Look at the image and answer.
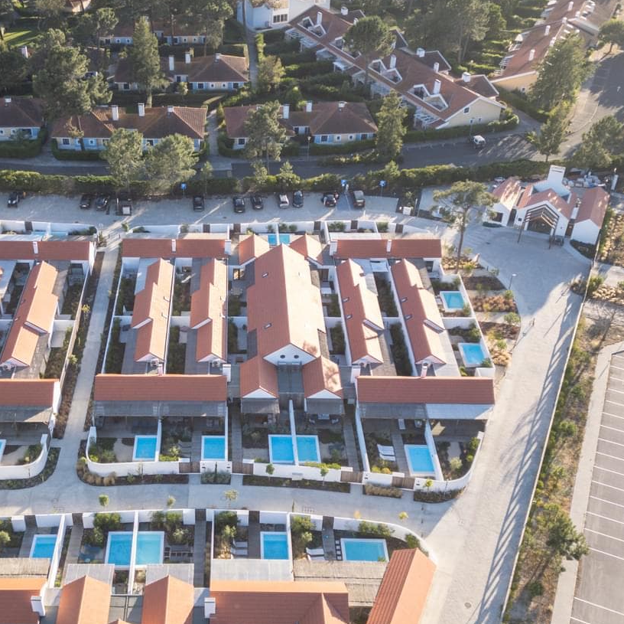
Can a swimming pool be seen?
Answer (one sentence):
Yes, you can see a swimming pool in this photo.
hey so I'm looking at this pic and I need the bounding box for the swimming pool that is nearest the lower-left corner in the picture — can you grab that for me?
[27,536,59,570]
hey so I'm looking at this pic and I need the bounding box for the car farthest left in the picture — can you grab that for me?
[4,190,24,207]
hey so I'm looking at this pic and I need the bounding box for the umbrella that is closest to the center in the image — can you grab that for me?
[428,423,448,442]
